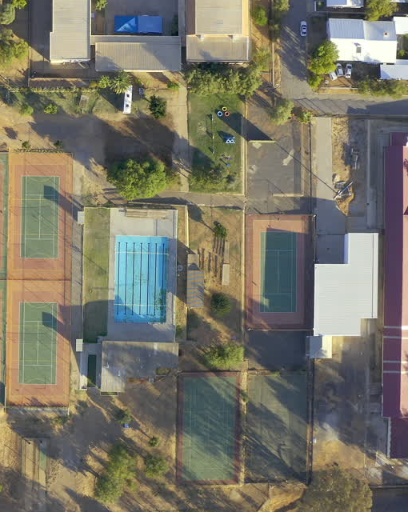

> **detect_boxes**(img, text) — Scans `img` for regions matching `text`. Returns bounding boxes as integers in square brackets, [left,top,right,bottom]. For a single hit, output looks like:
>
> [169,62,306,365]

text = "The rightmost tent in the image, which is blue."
[137,16,163,35]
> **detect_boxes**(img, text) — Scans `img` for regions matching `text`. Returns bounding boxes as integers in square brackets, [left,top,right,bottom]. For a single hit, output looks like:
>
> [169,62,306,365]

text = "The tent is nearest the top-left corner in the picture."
[114,16,137,34]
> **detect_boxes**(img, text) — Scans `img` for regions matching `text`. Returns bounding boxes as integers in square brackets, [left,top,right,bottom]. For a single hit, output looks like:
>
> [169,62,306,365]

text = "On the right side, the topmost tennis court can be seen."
[247,215,313,329]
